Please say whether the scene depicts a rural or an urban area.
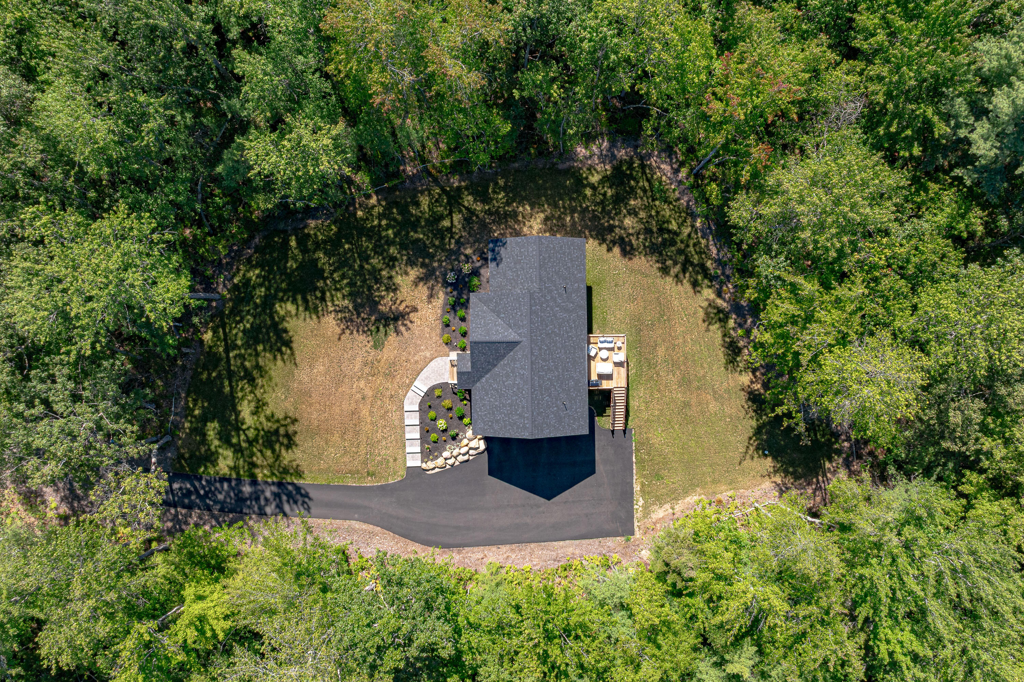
rural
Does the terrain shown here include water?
No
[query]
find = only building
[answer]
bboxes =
[447,235,589,439]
